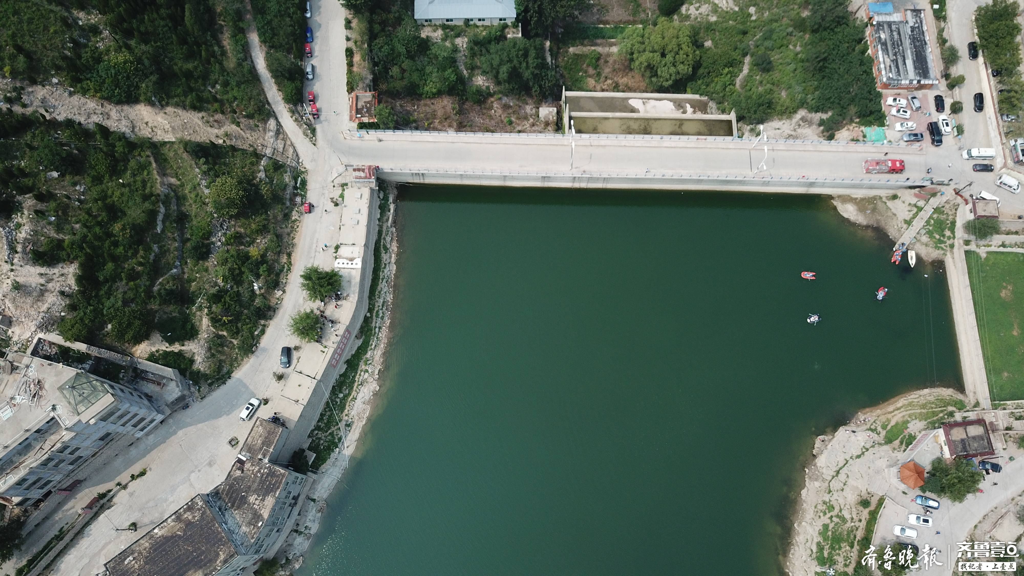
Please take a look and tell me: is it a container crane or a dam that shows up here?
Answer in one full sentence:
The image shows a dam.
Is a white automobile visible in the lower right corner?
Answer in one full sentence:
Yes, a white automobile is visible in the lower right corner.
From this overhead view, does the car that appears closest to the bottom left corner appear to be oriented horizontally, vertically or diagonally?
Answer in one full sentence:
Seen from above, the car that appears closest to the bottom left corner lies diagonally.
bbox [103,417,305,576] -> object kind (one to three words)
building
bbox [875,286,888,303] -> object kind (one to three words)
boat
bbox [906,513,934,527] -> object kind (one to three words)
car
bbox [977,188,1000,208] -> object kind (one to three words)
vehicle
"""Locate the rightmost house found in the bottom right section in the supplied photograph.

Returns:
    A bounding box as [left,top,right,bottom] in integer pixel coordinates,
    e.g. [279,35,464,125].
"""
[939,420,994,459]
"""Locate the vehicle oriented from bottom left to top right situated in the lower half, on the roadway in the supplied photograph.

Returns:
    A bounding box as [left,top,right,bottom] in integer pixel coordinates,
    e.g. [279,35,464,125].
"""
[239,398,262,422]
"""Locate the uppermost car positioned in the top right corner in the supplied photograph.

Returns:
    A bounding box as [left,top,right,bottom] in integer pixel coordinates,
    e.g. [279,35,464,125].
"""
[966,42,979,61]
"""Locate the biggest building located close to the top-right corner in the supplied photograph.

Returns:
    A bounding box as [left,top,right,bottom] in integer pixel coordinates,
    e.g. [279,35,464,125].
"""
[871,9,939,90]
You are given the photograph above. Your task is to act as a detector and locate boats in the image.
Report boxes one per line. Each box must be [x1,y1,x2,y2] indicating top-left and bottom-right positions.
[806,313,824,323]
[908,250,916,268]
[800,272,818,279]
[891,250,902,266]
[875,286,888,303]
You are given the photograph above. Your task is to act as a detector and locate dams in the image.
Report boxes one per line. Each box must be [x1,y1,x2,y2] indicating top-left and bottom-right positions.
[368,130,932,198]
